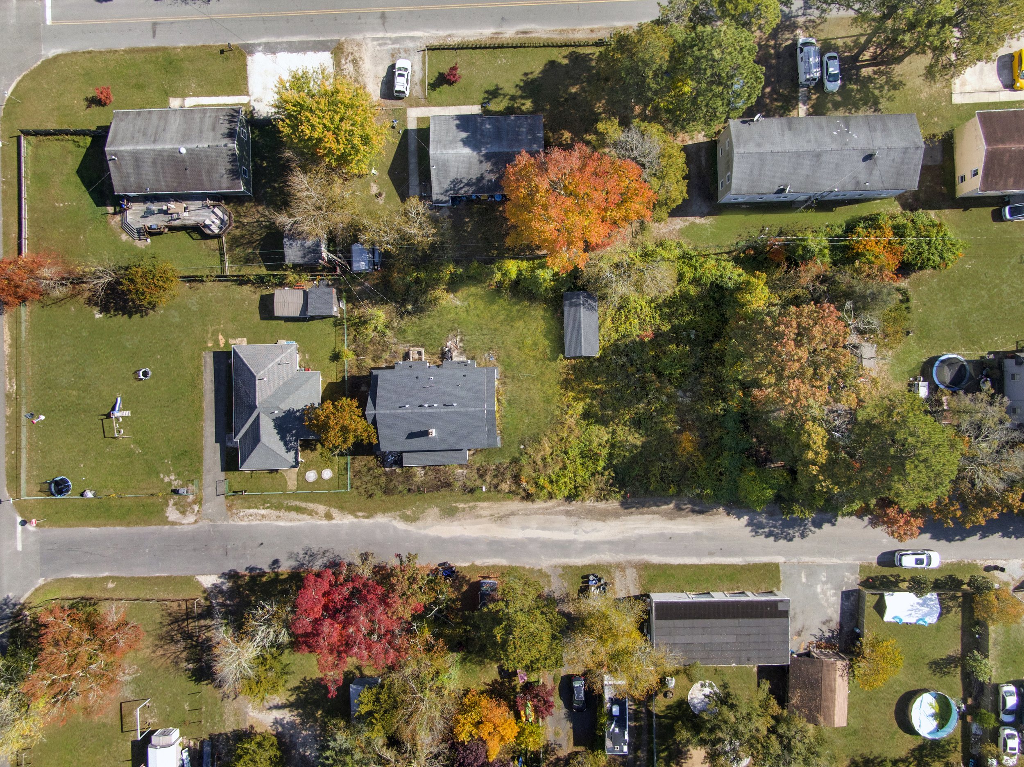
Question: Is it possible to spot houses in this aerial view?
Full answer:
Yes, you can see a house in this photo.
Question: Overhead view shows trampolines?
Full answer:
Yes, the image includes a trampoline.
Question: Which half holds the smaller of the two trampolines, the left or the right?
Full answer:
It is on the left.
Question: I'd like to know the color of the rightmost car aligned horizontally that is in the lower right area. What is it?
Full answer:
The rightmost car aligned horizontally that is in the lower right area is white.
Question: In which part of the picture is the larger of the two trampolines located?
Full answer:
The larger of the two trampolines is in the right part of the image.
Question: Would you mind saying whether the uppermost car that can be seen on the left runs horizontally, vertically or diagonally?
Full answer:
The uppermost car that can be seen on the left is laid out vertically.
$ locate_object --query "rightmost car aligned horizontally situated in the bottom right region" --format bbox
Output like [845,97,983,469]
[893,549,939,570]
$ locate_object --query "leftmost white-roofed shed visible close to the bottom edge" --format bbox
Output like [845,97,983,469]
[149,726,190,767]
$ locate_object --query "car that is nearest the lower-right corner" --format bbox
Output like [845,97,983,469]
[997,725,1021,766]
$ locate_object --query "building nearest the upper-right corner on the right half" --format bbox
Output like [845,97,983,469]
[955,110,1024,199]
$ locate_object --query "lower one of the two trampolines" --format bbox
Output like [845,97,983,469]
[42,477,73,499]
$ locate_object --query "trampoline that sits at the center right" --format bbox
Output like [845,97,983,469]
[930,353,980,391]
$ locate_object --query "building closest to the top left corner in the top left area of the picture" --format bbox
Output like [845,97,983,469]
[105,107,250,196]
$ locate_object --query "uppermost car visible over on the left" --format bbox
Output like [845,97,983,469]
[392,59,413,100]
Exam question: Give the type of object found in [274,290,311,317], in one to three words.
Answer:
shed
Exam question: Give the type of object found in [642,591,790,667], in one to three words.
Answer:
house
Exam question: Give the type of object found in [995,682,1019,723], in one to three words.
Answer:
car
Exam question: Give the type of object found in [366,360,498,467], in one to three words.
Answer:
house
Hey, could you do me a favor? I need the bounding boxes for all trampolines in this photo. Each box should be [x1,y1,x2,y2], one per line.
[930,353,980,391]
[42,477,73,499]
